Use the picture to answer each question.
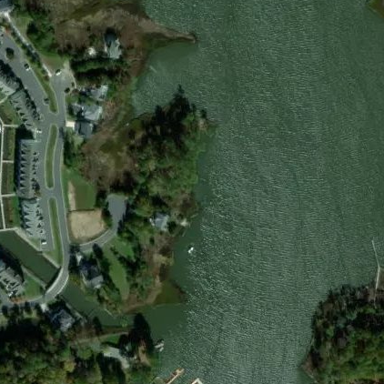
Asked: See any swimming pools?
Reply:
No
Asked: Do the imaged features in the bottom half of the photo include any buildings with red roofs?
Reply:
No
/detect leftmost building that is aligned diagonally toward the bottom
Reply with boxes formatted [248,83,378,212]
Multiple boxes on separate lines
[0,256,29,297]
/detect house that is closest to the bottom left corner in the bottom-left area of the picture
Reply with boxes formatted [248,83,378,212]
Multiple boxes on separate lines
[49,303,76,332]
